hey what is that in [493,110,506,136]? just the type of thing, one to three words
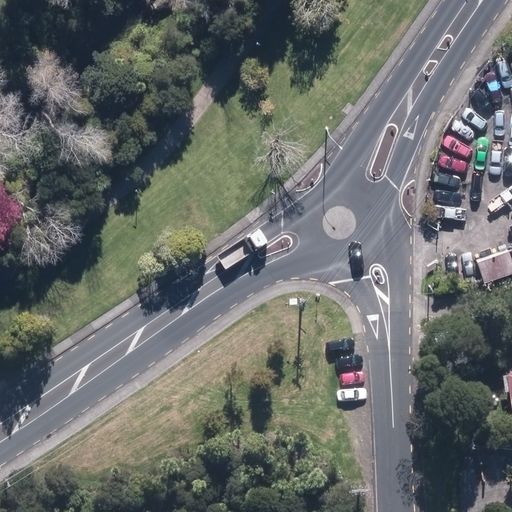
vehicle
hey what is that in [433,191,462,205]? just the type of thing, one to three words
car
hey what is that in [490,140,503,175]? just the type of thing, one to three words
vehicle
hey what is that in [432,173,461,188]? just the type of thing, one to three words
car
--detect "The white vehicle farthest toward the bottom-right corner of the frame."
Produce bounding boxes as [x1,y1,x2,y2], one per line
[337,388,367,401]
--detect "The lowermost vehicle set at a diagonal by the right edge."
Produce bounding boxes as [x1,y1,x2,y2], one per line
[486,186,512,215]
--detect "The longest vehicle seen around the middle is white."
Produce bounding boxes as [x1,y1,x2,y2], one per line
[218,228,268,268]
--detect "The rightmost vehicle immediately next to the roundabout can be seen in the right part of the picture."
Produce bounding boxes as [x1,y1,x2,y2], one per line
[348,241,362,271]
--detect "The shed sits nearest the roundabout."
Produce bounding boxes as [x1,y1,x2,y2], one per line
[474,249,512,286]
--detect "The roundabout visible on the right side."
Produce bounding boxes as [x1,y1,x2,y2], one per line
[322,206,356,240]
